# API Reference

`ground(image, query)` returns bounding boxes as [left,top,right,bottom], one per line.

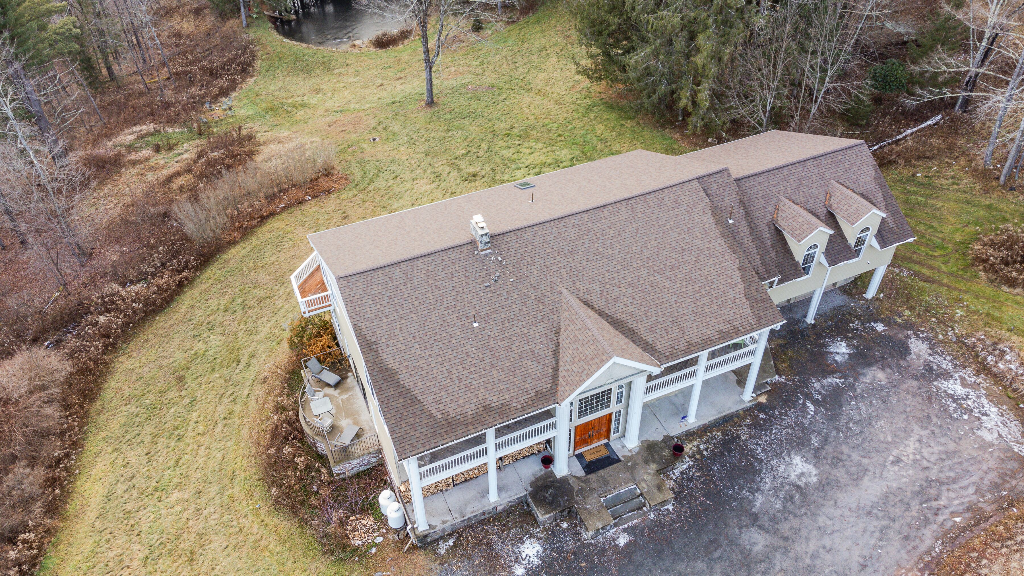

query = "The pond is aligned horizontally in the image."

[250,0,420,50]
